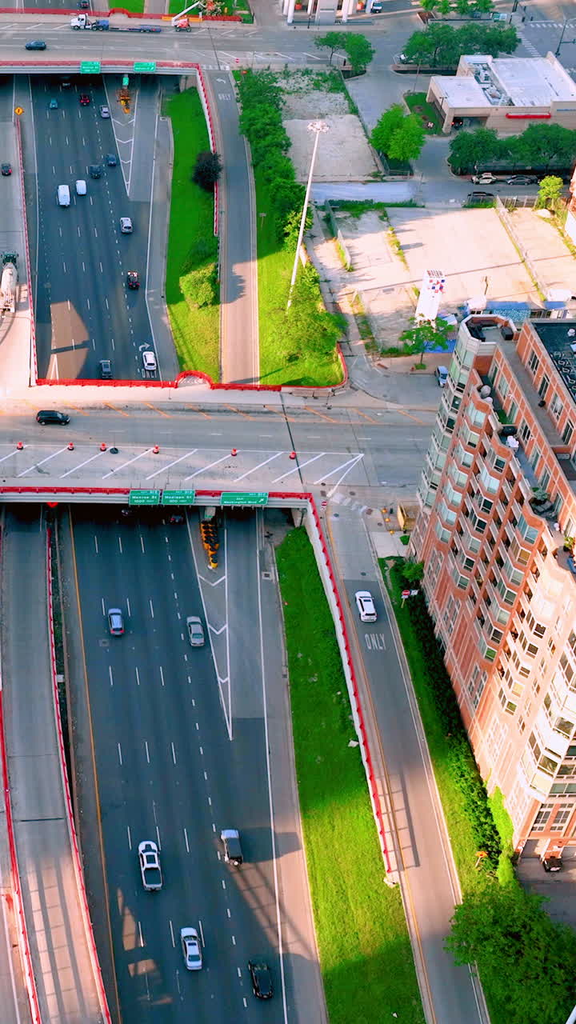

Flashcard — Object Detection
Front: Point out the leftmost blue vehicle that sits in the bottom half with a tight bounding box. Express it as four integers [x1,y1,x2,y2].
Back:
[107,605,126,636]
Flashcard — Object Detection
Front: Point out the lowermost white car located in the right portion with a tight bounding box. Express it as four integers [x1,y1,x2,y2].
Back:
[354,588,380,621]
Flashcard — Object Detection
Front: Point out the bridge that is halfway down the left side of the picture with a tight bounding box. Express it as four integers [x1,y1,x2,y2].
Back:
[0,366,311,523]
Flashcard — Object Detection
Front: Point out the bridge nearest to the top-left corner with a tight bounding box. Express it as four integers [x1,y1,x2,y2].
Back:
[0,6,264,98]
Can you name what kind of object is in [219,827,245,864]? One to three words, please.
car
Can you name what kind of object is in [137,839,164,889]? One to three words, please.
truck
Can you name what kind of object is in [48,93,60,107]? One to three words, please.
vehicle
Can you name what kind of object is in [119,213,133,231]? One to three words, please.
car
